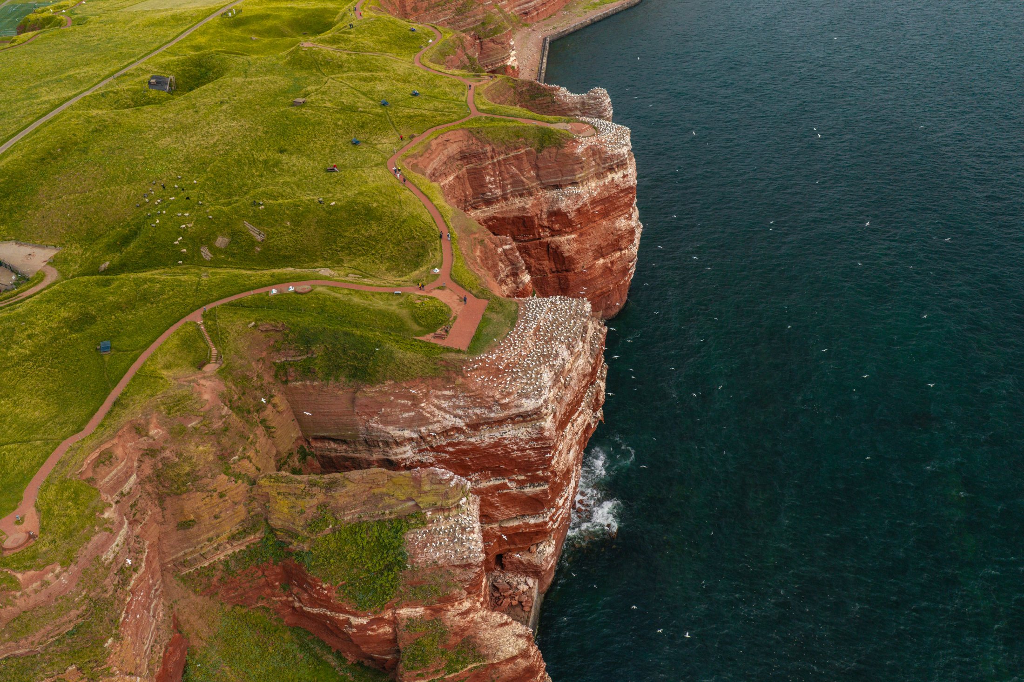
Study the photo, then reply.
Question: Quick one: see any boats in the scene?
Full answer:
No, the scene contains no boat.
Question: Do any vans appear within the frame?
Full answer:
No, no van can be seen from above.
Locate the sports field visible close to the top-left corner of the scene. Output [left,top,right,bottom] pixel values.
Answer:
[0,1,62,37]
